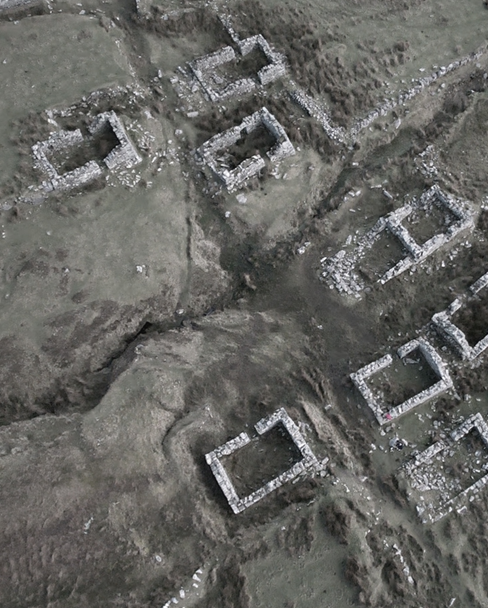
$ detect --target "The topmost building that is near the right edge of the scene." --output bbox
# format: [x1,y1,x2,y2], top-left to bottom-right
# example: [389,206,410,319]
[322,183,477,298]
